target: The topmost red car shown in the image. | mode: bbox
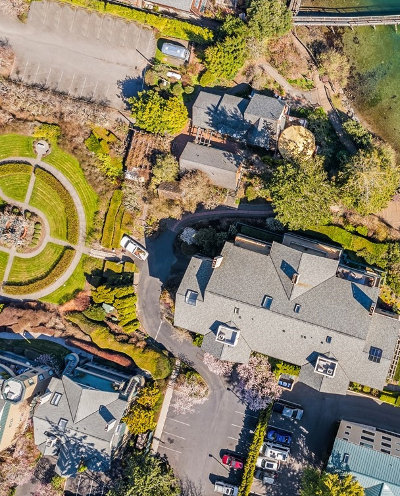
[220,453,246,469]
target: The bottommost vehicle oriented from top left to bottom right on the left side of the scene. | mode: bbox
[118,237,153,261]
